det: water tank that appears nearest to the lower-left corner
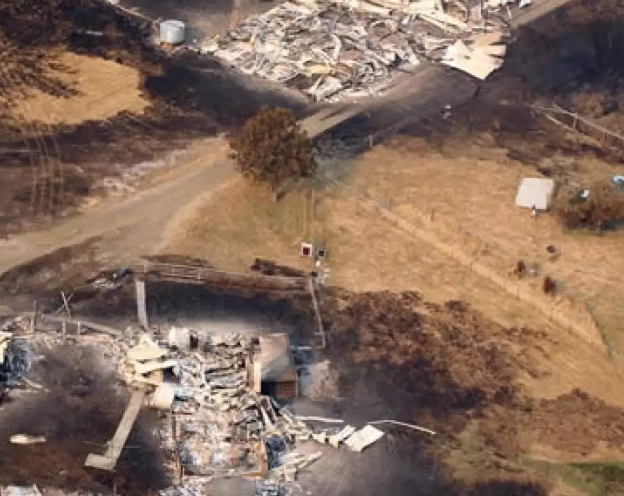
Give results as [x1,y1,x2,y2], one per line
[153,383,173,412]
